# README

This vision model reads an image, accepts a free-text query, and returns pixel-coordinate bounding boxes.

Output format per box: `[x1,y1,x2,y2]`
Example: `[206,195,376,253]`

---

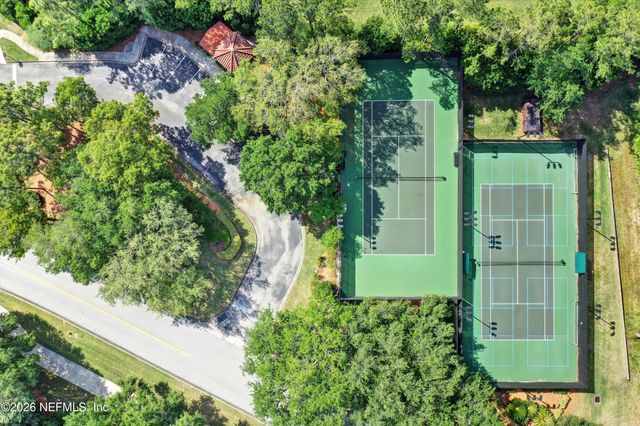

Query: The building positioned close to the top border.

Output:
[199,21,259,81]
